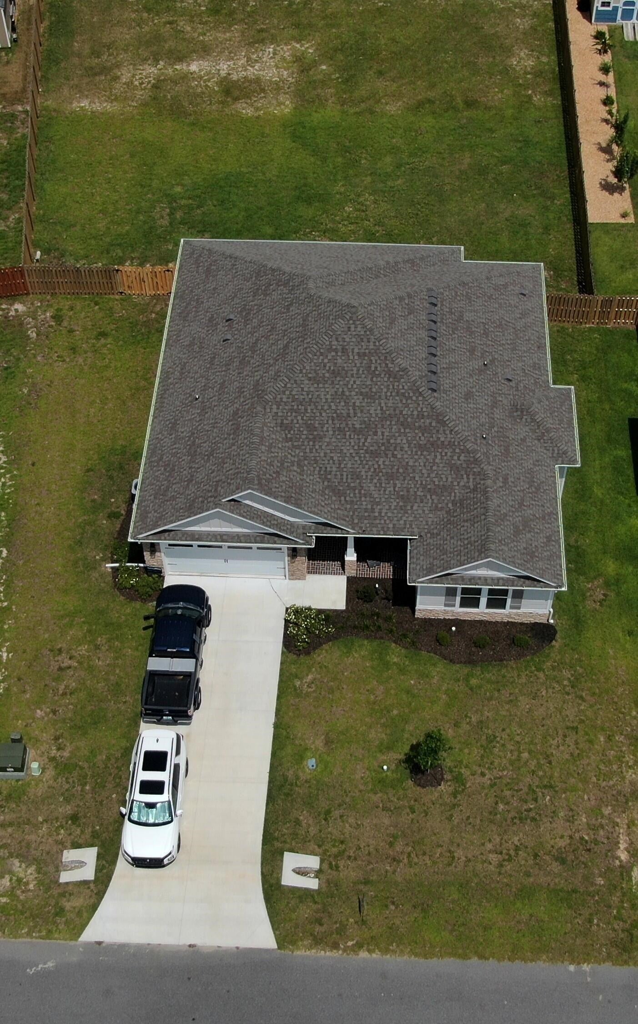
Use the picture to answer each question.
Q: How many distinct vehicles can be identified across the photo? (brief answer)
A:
two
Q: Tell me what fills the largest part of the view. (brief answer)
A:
grass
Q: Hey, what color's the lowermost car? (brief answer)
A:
white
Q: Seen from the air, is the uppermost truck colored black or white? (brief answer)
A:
black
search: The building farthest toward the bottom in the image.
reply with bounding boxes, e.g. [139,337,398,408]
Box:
[130,238,580,629]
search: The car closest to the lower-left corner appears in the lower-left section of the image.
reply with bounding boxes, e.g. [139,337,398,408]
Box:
[121,728,189,872]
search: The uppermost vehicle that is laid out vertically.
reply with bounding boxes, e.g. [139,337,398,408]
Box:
[141,583,210,724]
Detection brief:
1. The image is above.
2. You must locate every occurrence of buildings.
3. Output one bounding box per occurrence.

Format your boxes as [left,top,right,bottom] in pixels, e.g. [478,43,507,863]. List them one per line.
[0,0,20,47]
[130,238,580,629]
[590,0,638,24]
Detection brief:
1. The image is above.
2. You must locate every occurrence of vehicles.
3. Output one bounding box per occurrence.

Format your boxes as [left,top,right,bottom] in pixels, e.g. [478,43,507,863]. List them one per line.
[141,583,210,724]
[121,728,189,872]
